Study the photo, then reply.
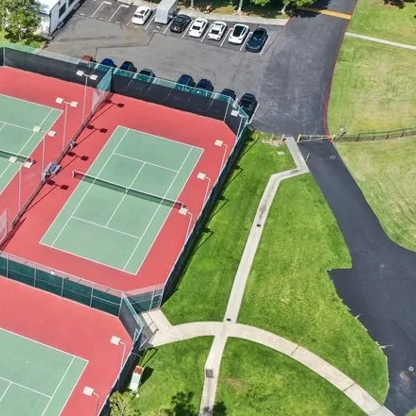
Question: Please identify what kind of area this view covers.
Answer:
sports ground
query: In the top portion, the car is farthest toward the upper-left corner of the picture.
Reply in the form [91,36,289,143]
[71,58,92,71]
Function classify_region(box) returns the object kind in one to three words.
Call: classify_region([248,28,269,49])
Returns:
car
